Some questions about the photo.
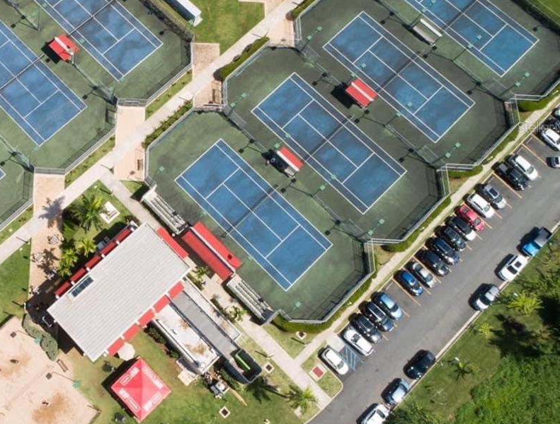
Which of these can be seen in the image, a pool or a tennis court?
tennis court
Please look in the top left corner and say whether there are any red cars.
No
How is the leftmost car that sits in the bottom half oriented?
at an angle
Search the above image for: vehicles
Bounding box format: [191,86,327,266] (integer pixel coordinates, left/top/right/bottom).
[438,224,469,252]
[446,211,477,241]
[474,283,501,309]
[429,236,462,266]
[476,180,507,209]
[361,301,394,332]
[508,153,539,182]
[406,258,436,288]
[465,189,496,219]
[549,155,560,168]
[343,325,376,358]
[538,125,560,153]
[418,247,450,278]
[350,312,382,343]
[318,344,349,375]
[454,203,485,231]
[494,159,530,192]
[519,227,556,256]
[382,378,411,404]
[547,113,560,133]
[372,291,403,321]
[404,350,437,379]
[357,403,391,424]
[393,269,424,298]
[498,255,529,281]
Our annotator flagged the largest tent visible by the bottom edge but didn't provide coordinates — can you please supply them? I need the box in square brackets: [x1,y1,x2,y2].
[111,358,172,422]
